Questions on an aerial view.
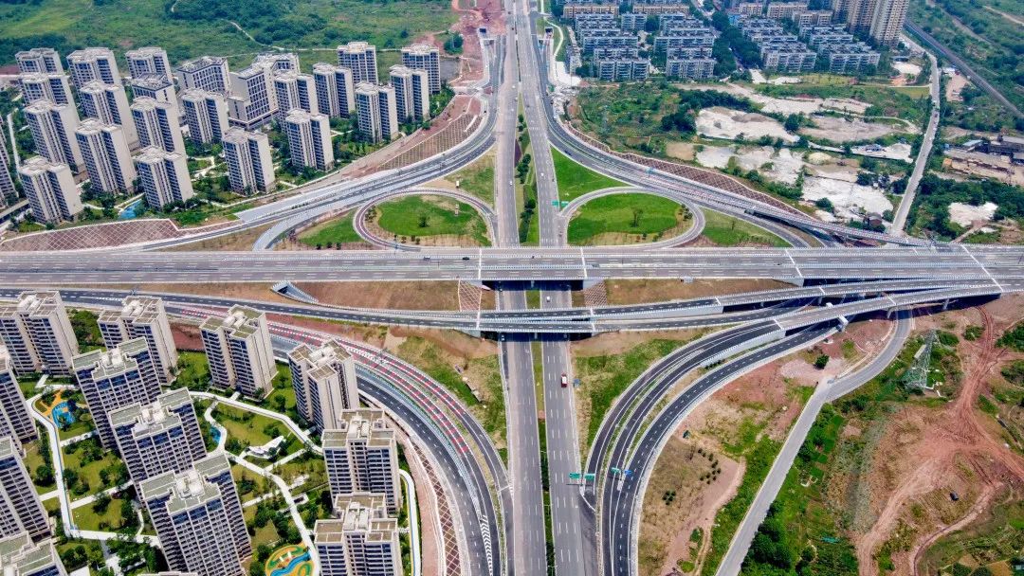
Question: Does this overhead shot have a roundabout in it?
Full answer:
No, I can't see a single roundabout in this photo.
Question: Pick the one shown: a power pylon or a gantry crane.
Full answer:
This aerial view contains a power pylon.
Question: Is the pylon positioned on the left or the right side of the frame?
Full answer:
The pylon sits on the right side.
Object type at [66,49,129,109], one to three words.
building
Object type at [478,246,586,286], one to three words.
overpass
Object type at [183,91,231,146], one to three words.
building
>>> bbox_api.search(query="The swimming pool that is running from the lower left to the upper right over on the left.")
[118,198,146,218]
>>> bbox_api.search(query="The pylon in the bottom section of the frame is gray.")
[897,328,942,393]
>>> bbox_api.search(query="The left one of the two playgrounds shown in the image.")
[45,389,76,428]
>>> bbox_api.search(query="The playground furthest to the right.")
[264,543,315,576]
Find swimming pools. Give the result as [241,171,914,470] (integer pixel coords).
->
[118,198,146,218]
[211,425,222,444]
